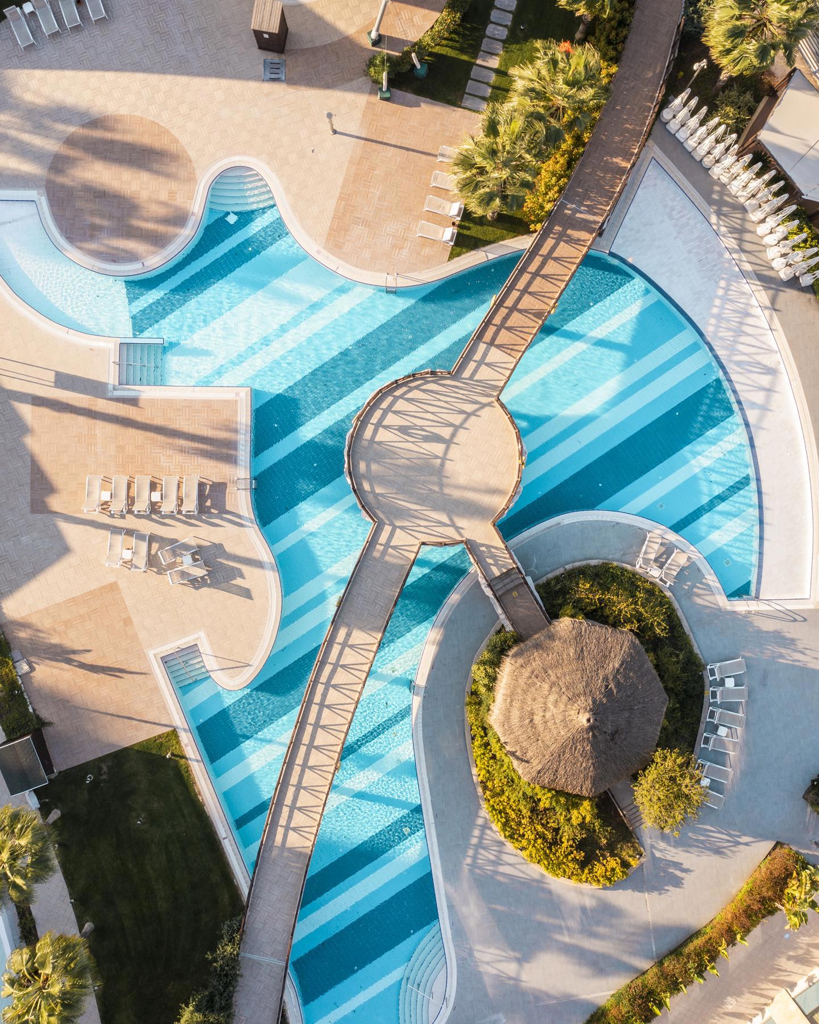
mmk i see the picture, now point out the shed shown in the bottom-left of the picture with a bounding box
[0,730,55,796]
